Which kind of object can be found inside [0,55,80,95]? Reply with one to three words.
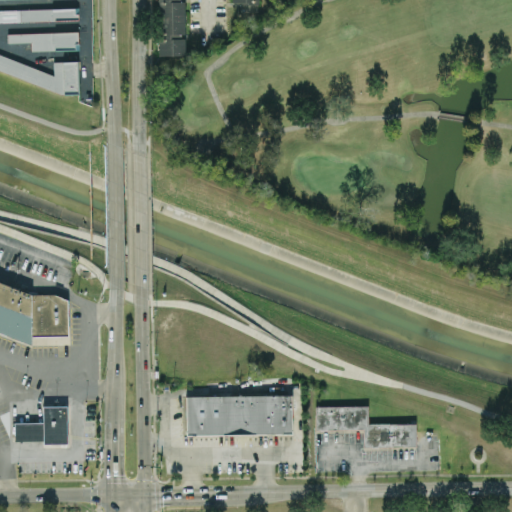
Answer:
building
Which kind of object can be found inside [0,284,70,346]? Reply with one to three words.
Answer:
building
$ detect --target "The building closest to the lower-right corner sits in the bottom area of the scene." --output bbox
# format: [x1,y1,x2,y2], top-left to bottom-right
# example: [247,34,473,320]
[316,406,417,450]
